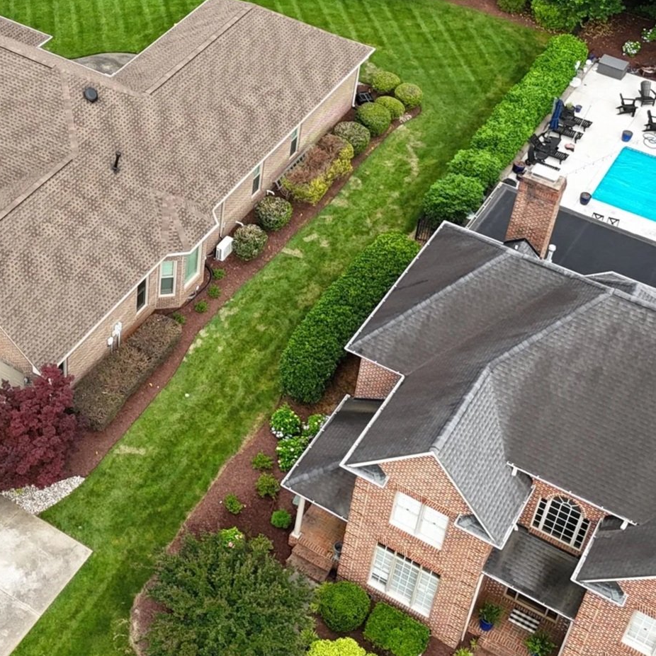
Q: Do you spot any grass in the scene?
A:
Yes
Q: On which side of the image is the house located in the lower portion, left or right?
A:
right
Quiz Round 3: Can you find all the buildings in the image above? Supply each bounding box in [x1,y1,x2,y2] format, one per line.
[275,167,656,656]
[0,0,378,409]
